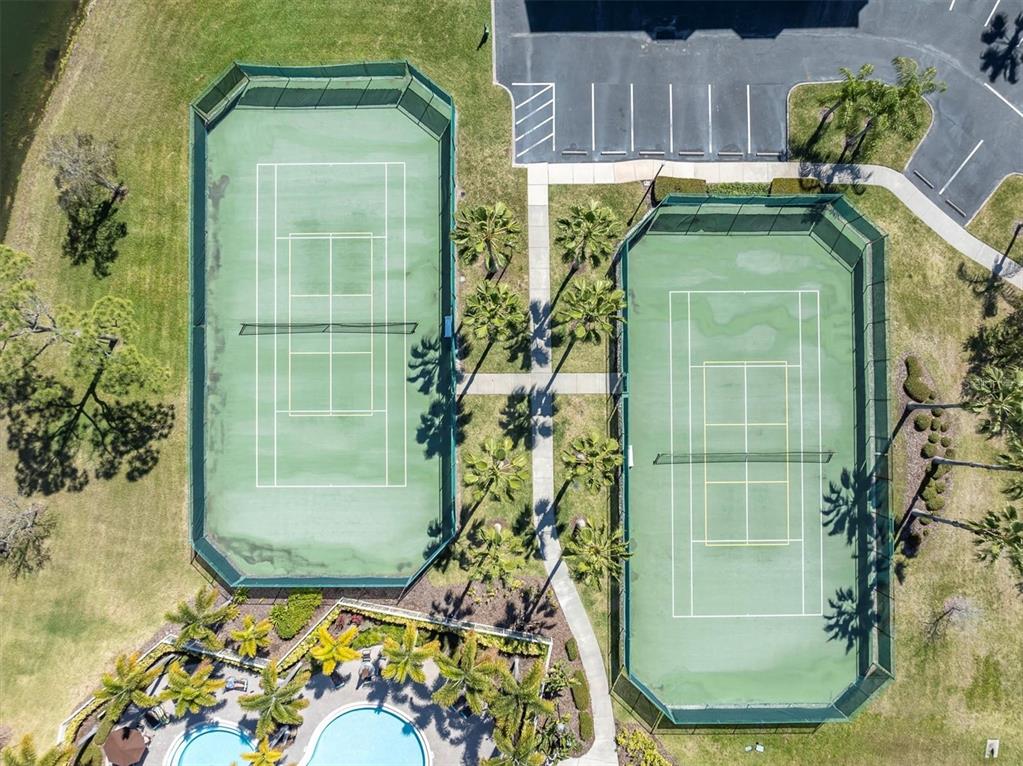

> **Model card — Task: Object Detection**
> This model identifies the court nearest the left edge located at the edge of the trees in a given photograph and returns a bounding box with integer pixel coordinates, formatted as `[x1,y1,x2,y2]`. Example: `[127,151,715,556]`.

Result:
[201,75,461,579]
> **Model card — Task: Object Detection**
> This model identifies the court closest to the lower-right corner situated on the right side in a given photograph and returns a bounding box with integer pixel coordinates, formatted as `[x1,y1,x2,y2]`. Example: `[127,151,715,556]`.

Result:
[618,200,876,709]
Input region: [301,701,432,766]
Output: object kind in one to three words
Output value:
swimming pool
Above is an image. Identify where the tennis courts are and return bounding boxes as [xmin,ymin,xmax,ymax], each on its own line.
[201,75,461,579]
[618,200,876,709]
